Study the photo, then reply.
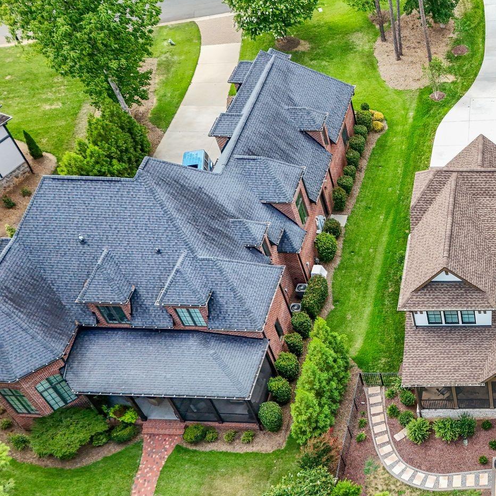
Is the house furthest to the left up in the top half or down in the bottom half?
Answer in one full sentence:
The house furthest to the left sits in the top half of the picture.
